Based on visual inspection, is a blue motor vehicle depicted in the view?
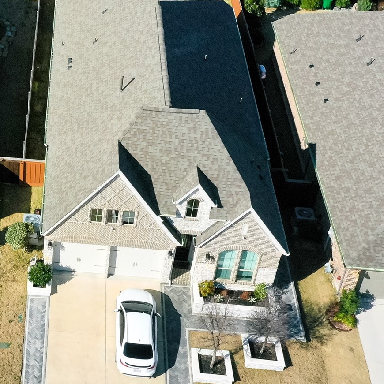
No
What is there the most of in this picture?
buildings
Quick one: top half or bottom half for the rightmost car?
bottom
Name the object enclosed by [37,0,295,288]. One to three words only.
house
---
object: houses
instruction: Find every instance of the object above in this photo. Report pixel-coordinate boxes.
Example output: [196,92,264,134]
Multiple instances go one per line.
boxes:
[271,9,384,300]
[37,0,295,288]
